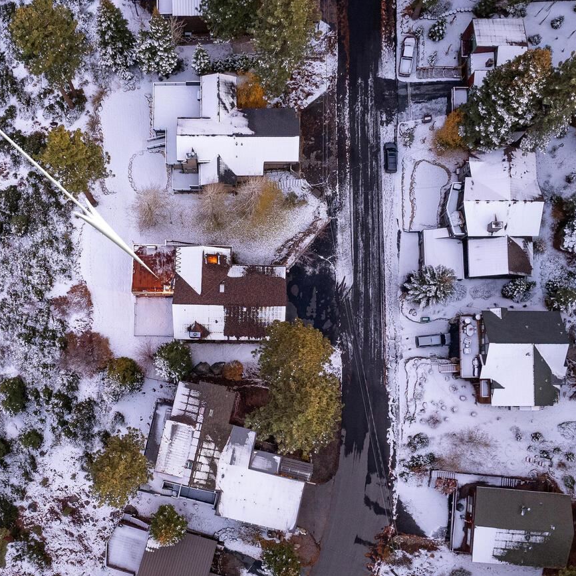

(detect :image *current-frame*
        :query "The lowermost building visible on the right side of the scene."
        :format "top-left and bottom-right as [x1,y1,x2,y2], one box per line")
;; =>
[430,471,574,569]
